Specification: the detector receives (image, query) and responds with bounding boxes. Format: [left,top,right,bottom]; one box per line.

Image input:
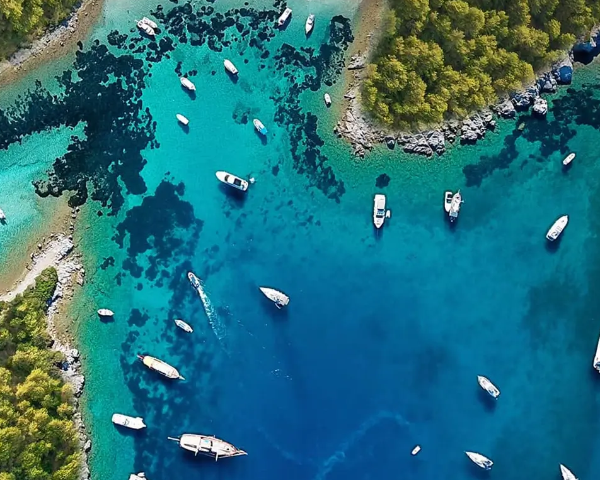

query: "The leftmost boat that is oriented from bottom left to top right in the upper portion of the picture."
[279,6,293,25]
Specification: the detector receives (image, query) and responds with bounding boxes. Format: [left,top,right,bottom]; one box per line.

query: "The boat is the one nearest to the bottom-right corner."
[560,465,578,480]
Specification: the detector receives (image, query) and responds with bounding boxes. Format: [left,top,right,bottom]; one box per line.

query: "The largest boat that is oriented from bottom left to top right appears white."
[547,216,569,243]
